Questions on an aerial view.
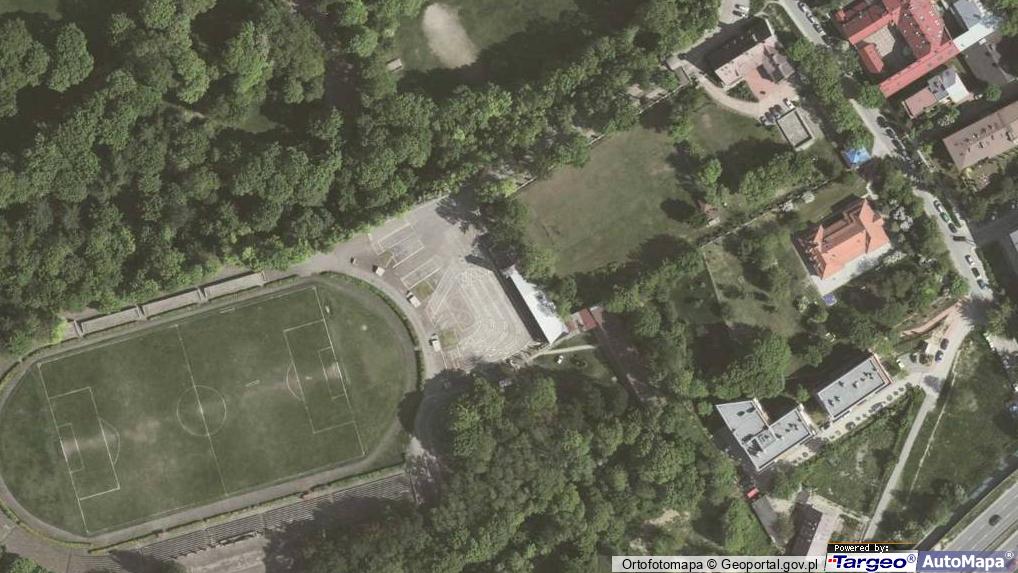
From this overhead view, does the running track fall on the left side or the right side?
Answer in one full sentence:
The running track appears in the left half of the scene.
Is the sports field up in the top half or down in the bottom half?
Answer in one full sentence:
It is in the bottom half that the sports field appears.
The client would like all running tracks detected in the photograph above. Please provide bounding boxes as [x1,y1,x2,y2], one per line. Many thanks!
[0,280,409,540]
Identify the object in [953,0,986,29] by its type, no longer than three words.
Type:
house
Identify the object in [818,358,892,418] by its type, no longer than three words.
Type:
building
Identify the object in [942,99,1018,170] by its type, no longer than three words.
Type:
building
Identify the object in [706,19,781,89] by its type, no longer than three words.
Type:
house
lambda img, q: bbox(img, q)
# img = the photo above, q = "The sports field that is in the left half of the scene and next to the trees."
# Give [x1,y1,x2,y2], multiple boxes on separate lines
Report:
[40,287,364,533]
